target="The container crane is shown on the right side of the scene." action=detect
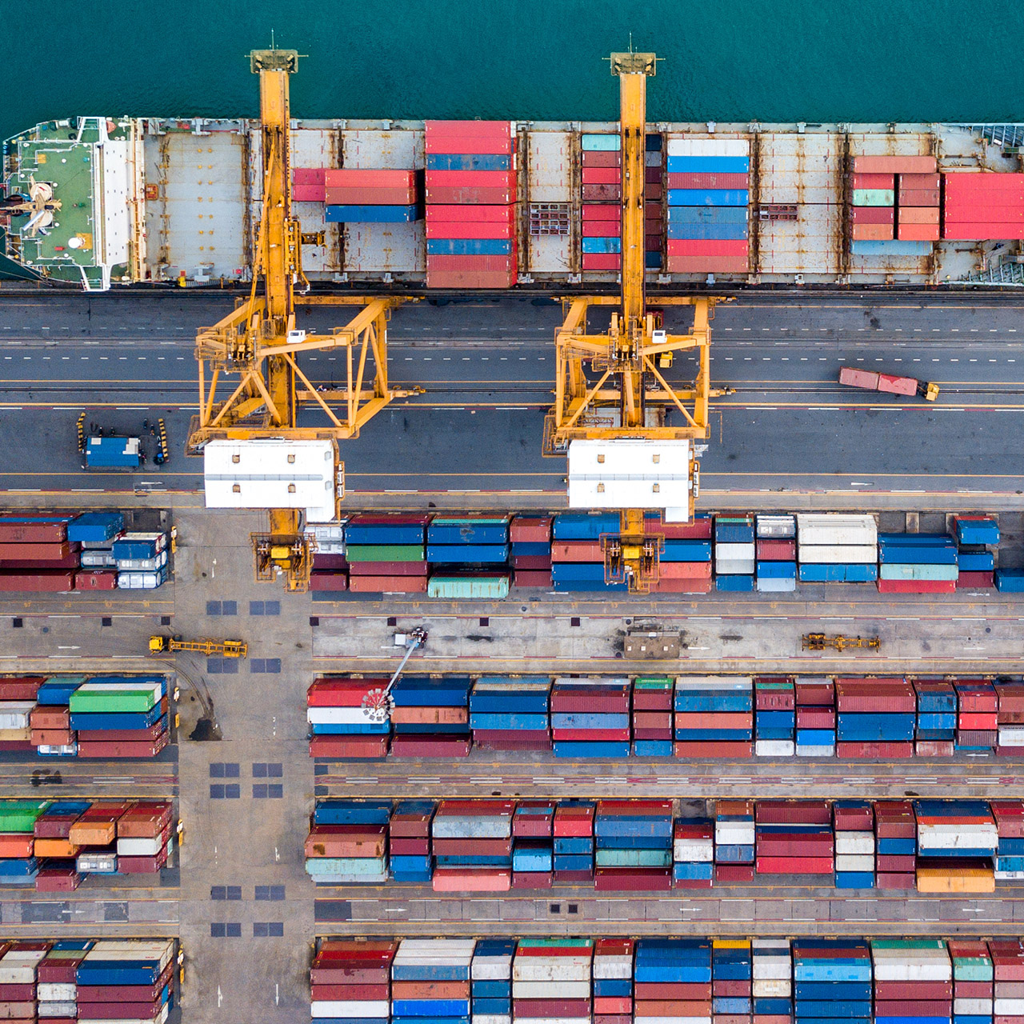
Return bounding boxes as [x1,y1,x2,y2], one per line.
[543,43,735,596]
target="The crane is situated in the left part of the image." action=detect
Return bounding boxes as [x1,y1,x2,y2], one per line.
[191,33,419,596]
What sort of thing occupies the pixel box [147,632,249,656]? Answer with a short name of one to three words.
truck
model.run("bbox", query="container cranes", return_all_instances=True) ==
[191,33,419,596]
[543,43,735,596]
